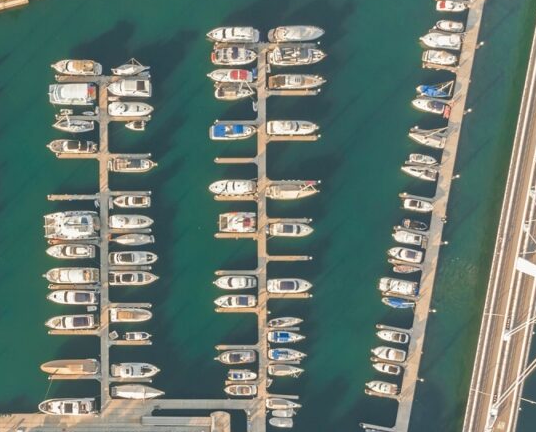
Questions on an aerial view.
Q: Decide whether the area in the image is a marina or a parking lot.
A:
marina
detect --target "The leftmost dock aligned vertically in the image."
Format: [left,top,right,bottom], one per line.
[48,74,151,414]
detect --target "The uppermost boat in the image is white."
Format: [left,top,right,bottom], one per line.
[434,0,468,12]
